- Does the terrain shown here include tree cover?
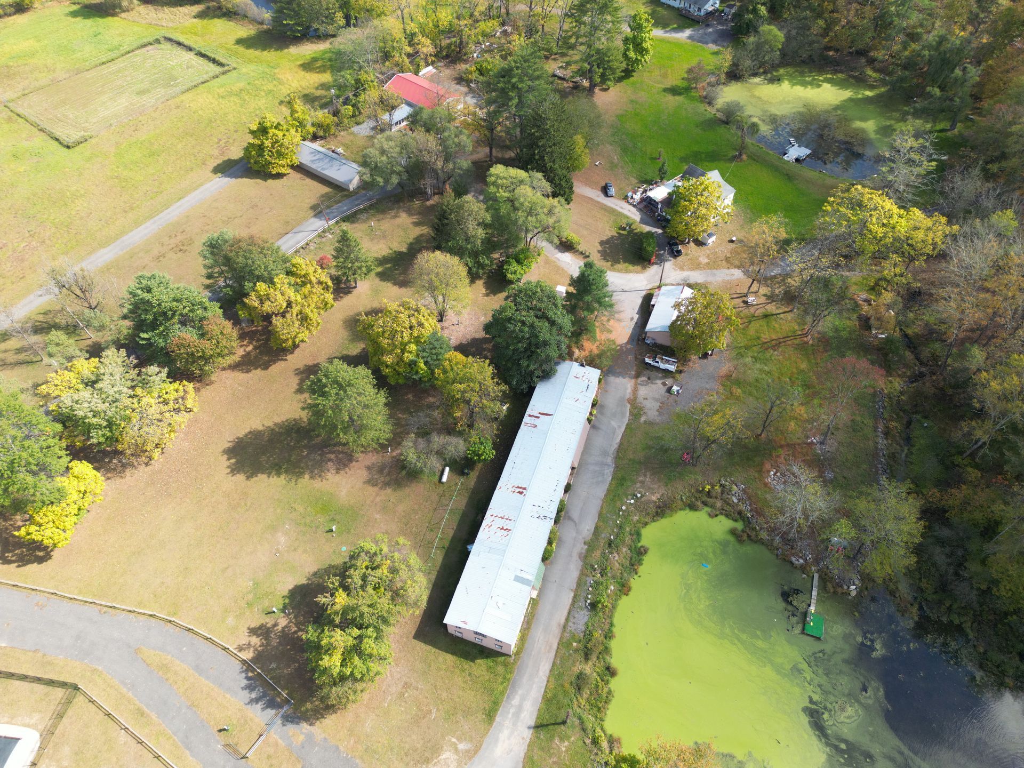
Yes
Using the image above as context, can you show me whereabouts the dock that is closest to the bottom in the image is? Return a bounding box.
[804,573,826,640]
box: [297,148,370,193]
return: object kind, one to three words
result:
shed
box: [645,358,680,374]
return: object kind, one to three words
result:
vehicle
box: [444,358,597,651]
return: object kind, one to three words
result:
building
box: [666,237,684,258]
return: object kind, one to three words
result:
vehicle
